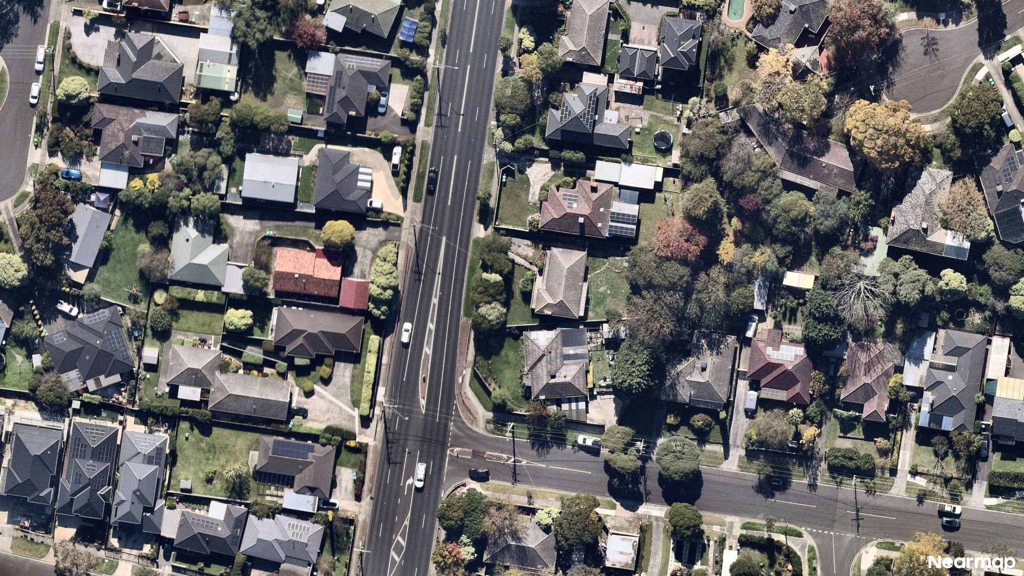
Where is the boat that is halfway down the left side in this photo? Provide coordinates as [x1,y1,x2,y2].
[55,299,81,315]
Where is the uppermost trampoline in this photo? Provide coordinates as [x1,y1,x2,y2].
[654,129,673,148]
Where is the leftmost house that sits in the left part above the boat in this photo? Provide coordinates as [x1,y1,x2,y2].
[63,202,111,267]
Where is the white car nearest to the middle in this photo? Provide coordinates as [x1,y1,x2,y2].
[400,320,413,346]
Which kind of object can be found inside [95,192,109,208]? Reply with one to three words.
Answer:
gazebo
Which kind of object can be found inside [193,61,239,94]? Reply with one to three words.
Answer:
shed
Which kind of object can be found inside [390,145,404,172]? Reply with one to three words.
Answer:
vehicle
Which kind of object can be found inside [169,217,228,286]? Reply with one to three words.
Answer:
house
